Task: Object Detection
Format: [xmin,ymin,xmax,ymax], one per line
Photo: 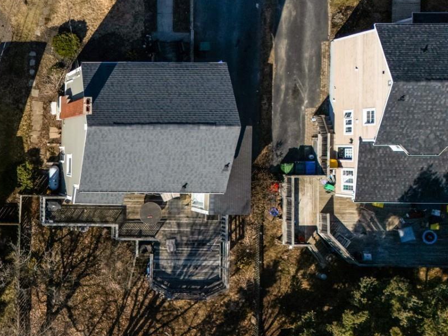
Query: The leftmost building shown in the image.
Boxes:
[47,62,252,216]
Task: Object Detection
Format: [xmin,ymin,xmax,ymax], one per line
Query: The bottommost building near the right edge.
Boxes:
[329,24,448,203]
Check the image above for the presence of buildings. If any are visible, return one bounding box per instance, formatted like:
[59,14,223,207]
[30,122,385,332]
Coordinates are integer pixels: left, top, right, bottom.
[47,62,252,216]
[329,24,448,203]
